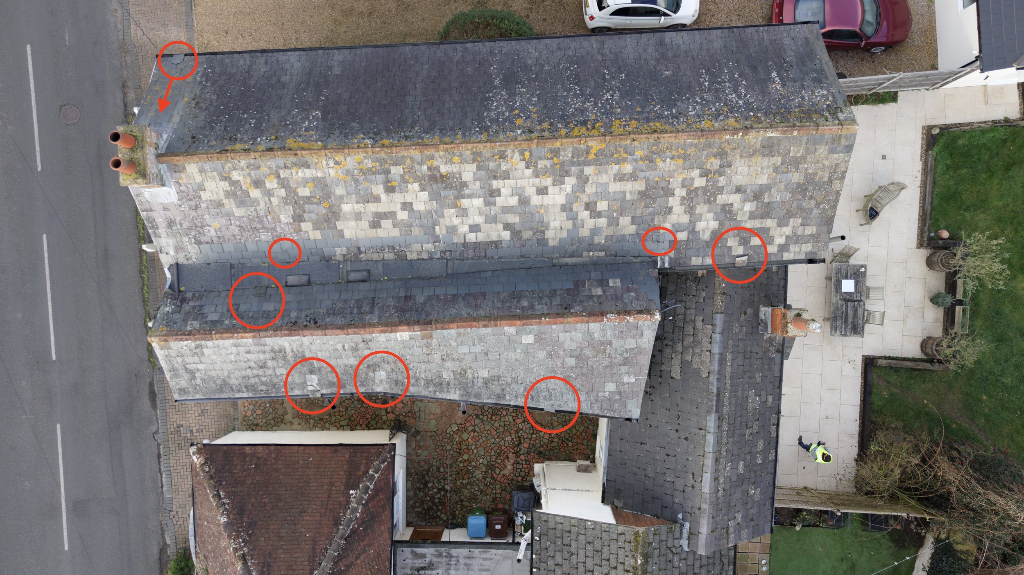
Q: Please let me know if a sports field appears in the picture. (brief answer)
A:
No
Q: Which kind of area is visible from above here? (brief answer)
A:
residential area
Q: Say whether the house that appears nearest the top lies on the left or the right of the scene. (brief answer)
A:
right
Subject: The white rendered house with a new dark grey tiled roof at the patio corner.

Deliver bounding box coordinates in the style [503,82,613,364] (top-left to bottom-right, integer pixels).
[940,0,1024,104]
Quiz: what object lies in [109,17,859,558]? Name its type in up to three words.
house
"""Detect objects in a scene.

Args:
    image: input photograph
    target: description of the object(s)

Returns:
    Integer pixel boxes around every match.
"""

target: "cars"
[773,0,914,52]
[586,0,702,28]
